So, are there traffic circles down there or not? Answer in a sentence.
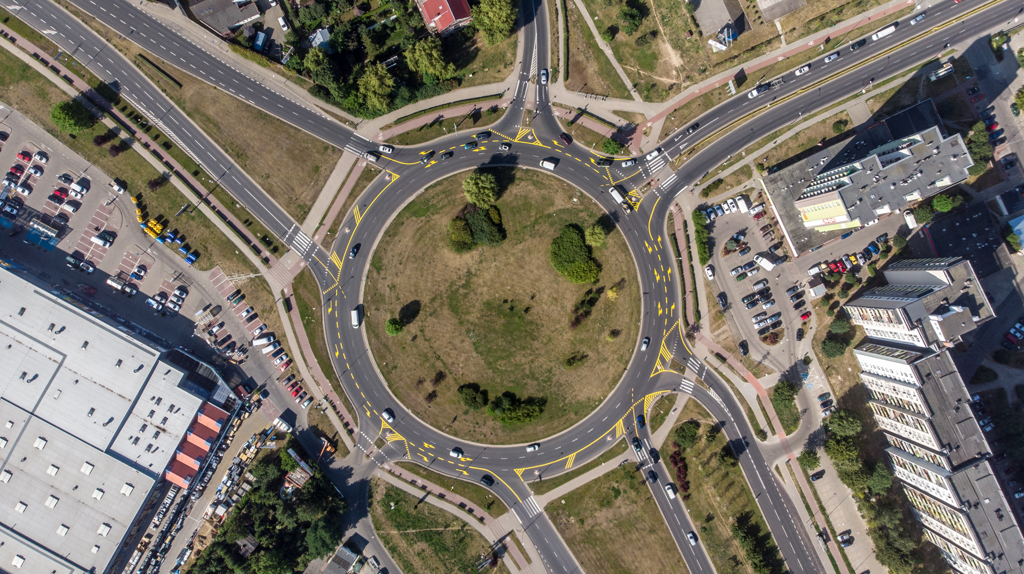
Yes, a traffic circle appears in the view.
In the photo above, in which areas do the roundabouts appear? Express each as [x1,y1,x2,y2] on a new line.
[314,126,692,503]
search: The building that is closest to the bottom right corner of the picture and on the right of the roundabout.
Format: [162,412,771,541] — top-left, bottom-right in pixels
[886,451,1024,574]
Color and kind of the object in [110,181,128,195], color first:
white vehicle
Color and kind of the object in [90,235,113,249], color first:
white vehicle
